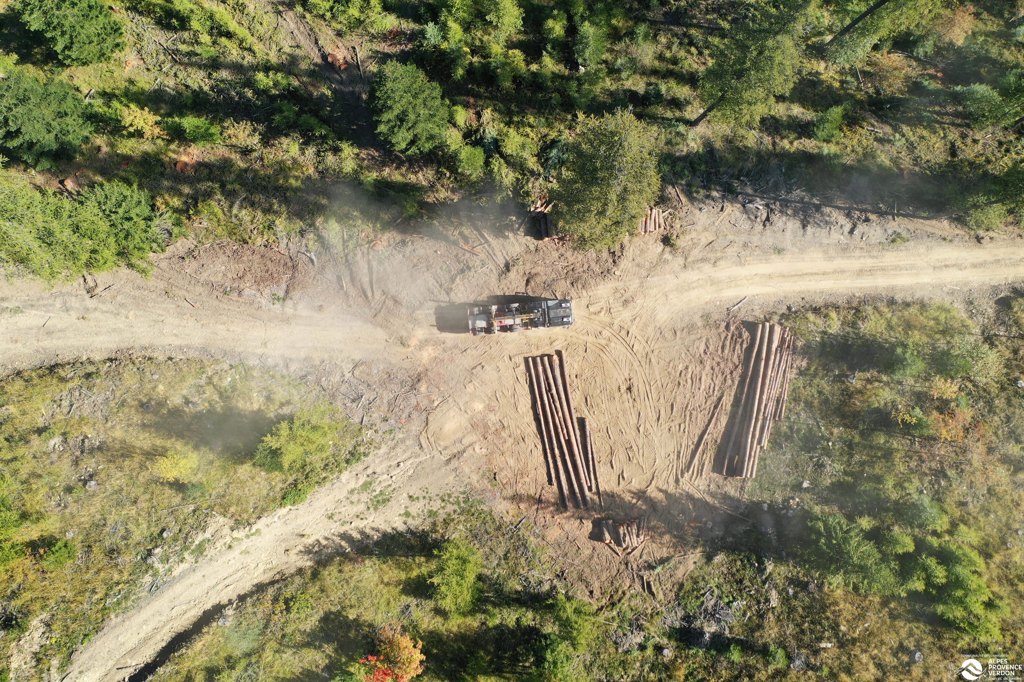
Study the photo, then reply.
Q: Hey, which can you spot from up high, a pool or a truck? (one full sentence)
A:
There is a truck in the scene.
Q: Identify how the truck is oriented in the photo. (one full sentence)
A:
The truck has been laid out horizontally relative to the frame.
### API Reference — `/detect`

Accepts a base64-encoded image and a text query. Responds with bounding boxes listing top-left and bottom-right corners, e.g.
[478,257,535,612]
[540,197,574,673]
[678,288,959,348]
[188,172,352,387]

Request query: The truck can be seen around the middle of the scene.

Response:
[469,295,576,335]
